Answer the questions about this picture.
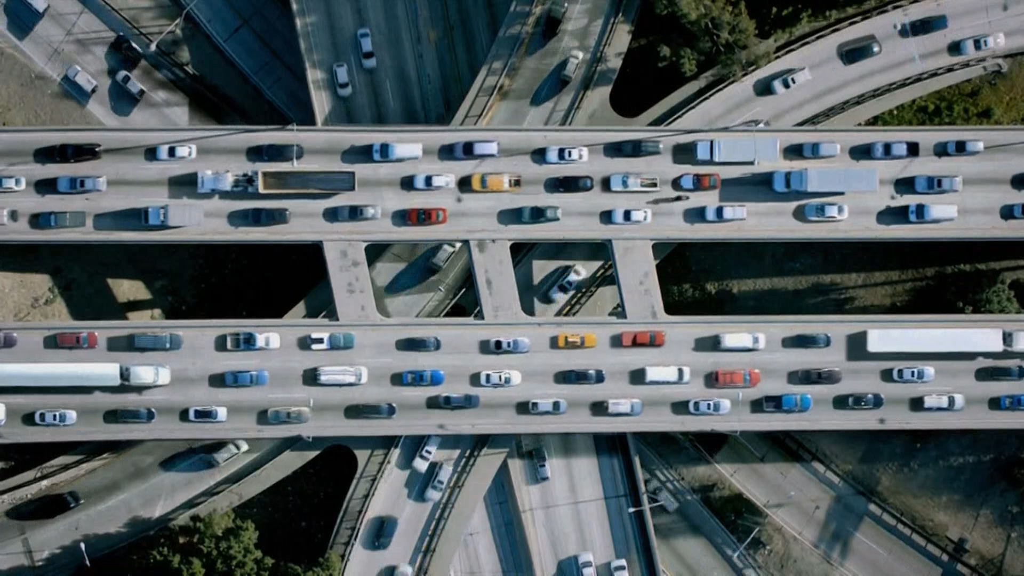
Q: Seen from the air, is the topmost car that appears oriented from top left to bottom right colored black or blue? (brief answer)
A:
black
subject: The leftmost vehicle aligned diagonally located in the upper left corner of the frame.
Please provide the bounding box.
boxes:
[65,63,101,98]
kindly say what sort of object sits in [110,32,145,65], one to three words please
car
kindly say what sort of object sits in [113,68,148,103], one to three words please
car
